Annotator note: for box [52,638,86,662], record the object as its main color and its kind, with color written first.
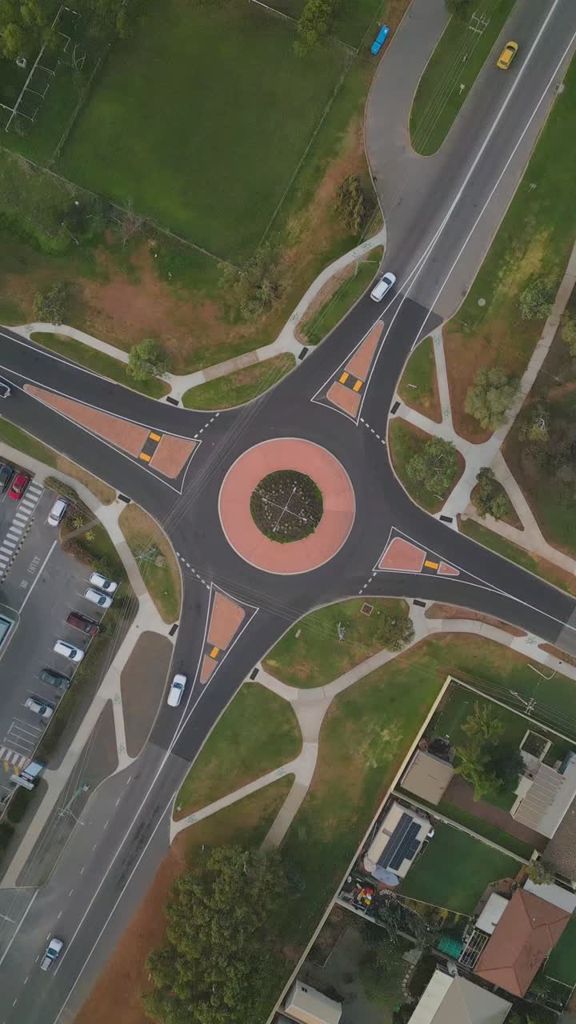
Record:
white car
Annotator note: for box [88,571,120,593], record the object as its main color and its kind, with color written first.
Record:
white car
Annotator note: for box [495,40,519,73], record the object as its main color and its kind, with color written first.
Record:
yellow car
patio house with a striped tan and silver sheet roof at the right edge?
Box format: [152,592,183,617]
[506,758,576,840]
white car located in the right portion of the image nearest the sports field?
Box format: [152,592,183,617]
[370,270,395,304]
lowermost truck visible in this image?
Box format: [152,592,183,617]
[37,934,63,974]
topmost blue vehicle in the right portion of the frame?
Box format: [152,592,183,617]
[371,22,390,57]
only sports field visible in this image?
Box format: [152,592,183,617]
[52,0,357,262]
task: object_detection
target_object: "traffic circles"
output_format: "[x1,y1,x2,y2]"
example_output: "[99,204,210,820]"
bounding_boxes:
[197,417,376,596]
